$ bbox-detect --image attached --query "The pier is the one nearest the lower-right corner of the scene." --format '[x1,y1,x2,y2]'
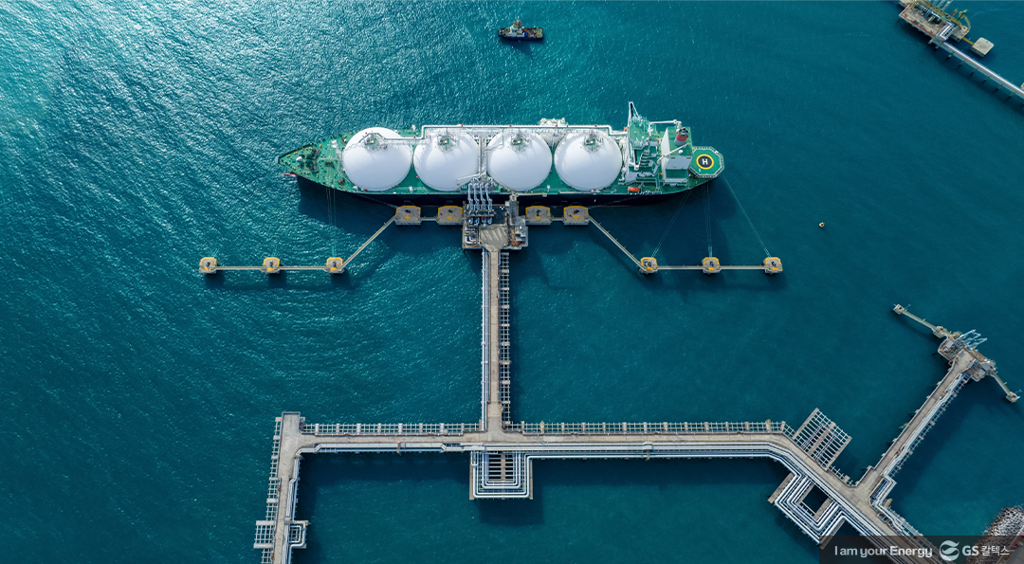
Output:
[933,332,995,384]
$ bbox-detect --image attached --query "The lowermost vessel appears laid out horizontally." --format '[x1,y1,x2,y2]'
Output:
[277,103,722,206]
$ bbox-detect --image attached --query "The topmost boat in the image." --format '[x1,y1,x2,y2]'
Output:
[499,19,545,43]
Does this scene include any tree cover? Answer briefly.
No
